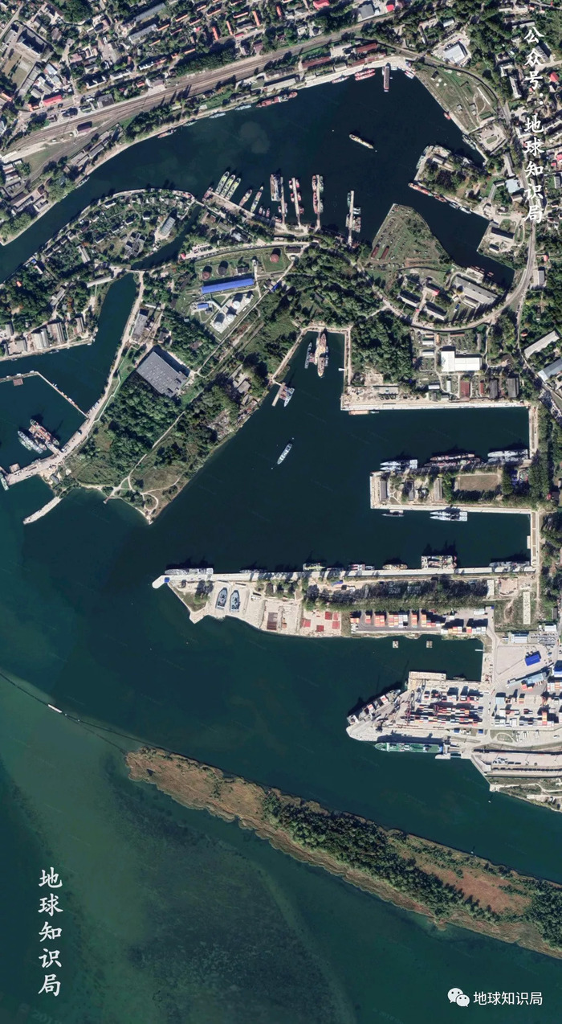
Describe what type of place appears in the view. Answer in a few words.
port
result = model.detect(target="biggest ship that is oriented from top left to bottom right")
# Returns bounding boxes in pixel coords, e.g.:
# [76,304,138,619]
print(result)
[31,420,59,446]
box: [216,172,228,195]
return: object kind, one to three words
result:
ship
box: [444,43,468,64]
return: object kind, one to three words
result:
building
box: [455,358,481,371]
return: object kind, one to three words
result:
building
